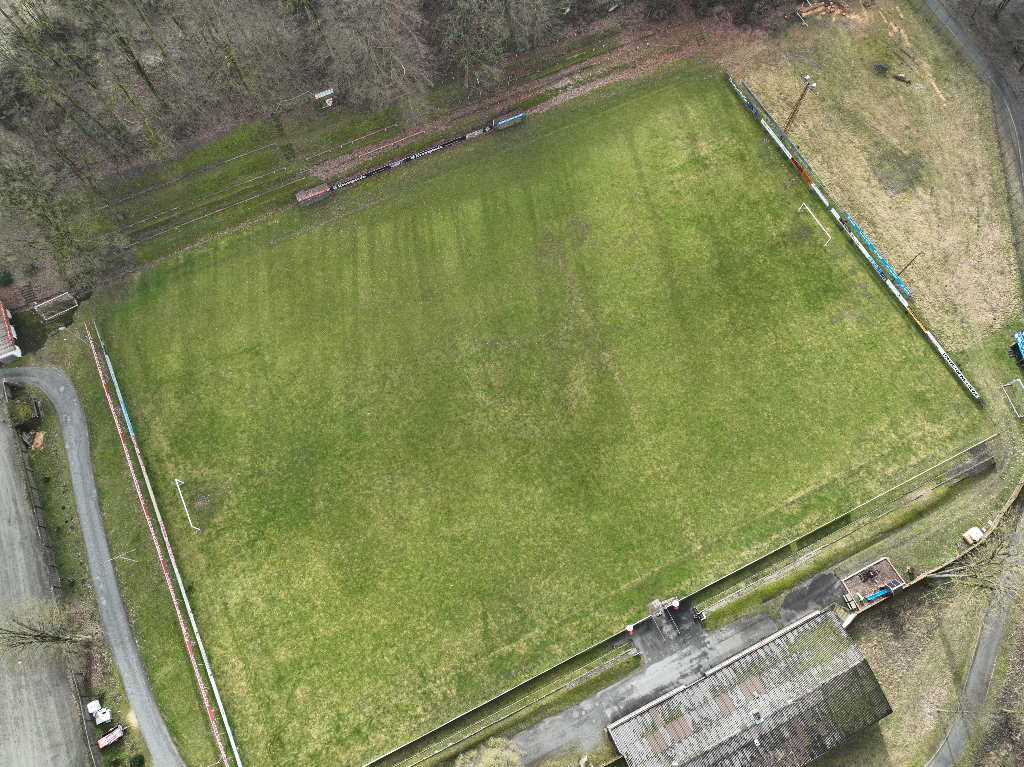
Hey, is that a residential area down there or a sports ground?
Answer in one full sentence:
It's a sports ground.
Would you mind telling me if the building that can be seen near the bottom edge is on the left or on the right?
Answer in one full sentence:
The building that can be seen near the bottom edge sits on the right side.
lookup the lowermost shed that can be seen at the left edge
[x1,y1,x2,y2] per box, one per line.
[10,396,45,429]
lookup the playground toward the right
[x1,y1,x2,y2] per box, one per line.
[839,557,906,611]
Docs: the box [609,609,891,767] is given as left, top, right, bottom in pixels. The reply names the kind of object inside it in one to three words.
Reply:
building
